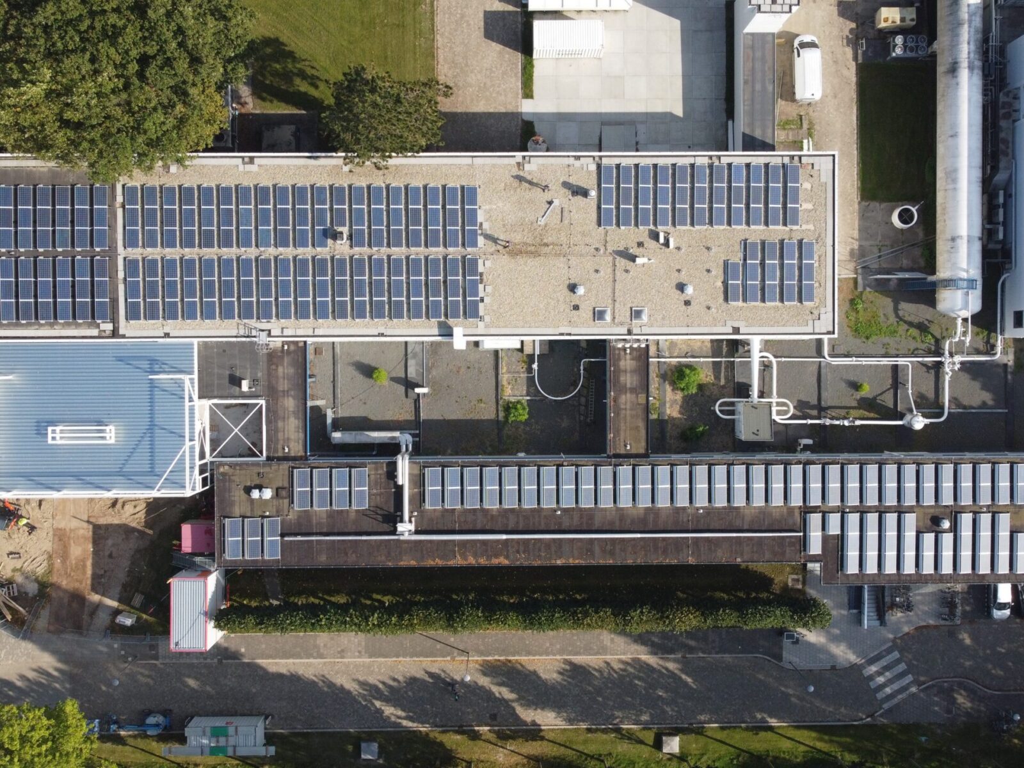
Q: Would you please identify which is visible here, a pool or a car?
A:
car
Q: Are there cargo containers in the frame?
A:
Yes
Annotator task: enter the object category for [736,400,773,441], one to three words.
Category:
building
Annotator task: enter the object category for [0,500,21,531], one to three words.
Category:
work vehicle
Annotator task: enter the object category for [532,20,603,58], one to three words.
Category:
shipping container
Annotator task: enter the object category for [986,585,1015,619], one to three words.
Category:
car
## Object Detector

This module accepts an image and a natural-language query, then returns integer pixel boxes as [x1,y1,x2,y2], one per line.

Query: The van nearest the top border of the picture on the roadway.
[789,42,819,107]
